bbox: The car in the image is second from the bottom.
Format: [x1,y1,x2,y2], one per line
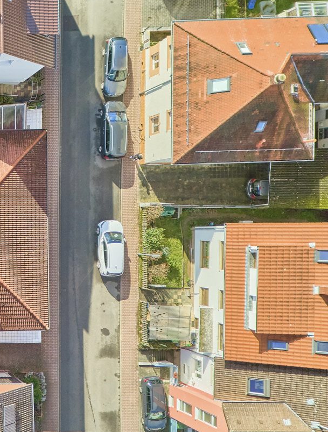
[96,220,126,277]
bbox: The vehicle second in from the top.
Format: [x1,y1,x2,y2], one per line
[100,102,130,160]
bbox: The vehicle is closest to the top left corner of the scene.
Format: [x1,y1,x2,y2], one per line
[101,38,131,98]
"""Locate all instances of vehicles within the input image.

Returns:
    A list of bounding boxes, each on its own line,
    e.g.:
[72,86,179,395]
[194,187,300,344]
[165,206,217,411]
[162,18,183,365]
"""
[96,220,126,277]
[100,102,130,160]
[240,179,267,199]
[101,38,131,98]
[138,375,170,432]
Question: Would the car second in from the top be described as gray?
Yes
